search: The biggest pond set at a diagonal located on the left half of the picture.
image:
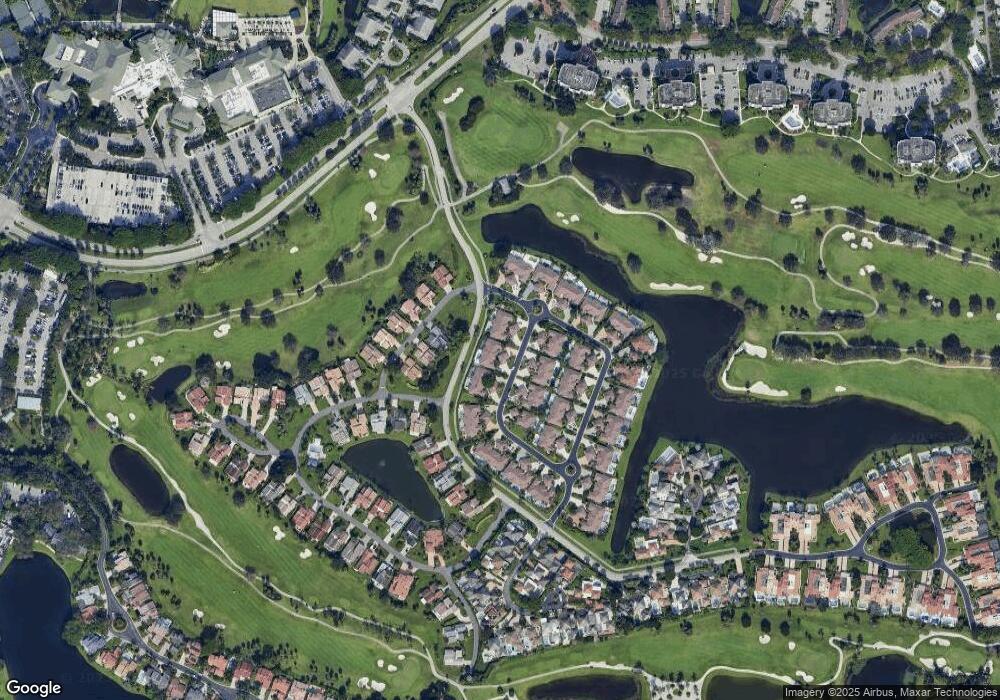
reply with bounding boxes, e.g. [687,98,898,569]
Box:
[342,438,442,523]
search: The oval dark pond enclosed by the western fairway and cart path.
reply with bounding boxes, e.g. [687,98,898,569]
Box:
[109,444,171,515]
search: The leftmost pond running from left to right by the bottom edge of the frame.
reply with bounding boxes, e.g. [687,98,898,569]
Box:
[521,675,643,700]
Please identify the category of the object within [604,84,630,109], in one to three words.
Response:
swimming pool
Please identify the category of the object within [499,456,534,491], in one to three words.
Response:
house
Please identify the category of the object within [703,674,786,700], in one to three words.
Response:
pond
